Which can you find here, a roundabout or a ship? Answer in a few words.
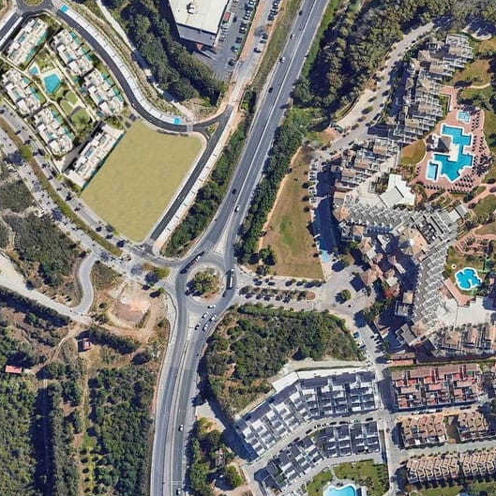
roundabout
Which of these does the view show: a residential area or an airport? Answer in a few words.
residential area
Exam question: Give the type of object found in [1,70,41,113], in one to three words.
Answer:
building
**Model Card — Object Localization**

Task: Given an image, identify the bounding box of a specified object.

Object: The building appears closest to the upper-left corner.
[7,16,48,65]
